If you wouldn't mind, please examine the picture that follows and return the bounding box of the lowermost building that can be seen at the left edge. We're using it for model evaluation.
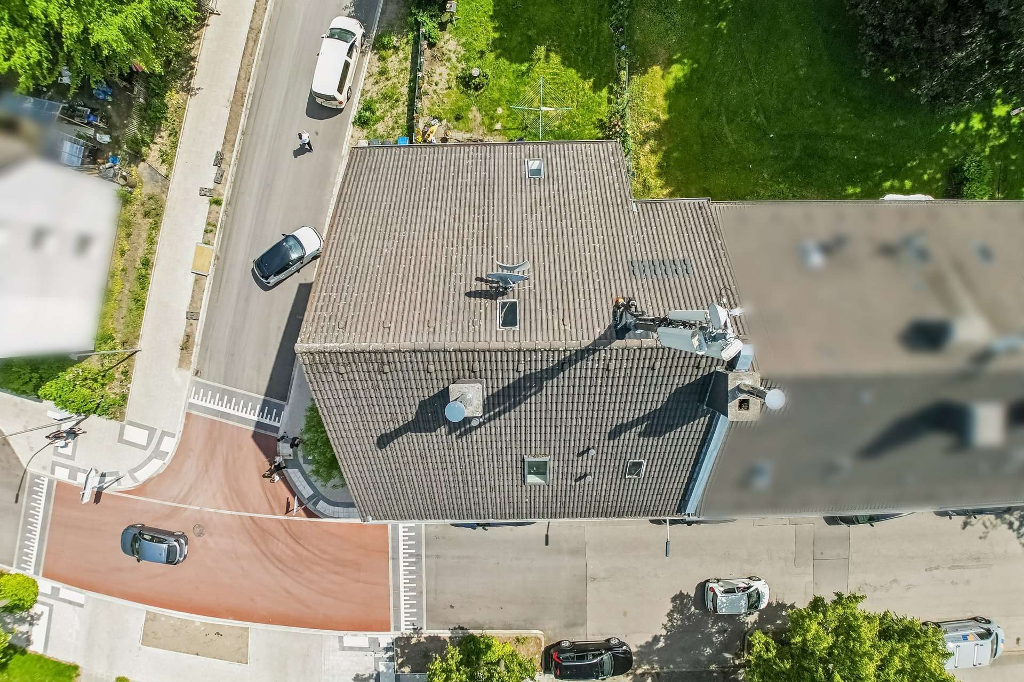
[0,147,117,357]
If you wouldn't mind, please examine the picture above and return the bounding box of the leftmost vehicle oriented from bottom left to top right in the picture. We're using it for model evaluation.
[254,232,322,289]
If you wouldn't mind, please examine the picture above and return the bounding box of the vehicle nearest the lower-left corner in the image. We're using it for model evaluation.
[118,526,189,566]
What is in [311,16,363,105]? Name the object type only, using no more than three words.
car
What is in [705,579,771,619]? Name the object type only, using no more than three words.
car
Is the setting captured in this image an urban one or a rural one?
urban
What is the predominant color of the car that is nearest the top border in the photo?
white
